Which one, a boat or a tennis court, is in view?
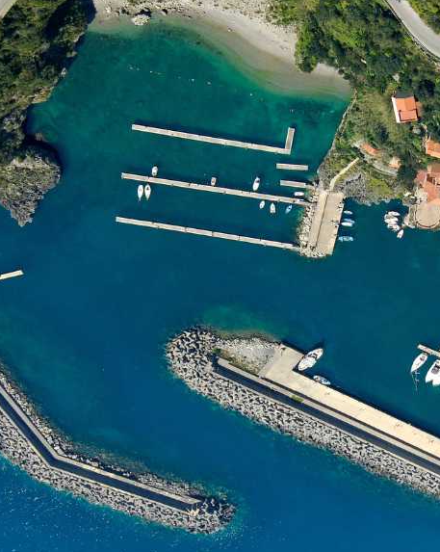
boat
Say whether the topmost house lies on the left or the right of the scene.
right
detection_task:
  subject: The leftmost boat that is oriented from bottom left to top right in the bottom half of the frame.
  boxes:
[297,349,322,374]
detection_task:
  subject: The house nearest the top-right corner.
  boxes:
[397,96,417,123]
